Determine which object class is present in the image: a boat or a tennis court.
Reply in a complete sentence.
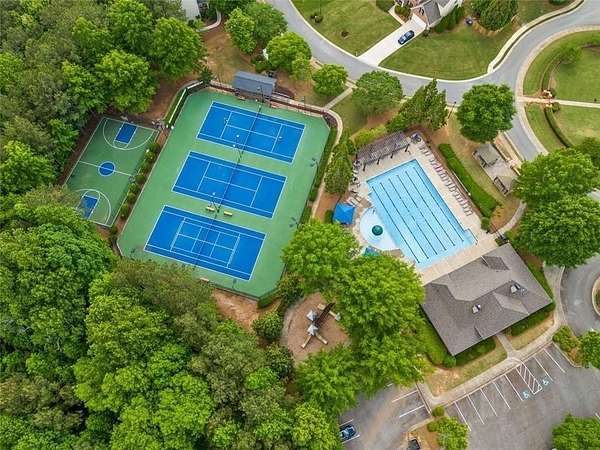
The one in the frame is a tennis court.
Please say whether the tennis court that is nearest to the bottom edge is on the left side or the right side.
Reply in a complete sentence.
It is on the left.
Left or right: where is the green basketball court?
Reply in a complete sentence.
The green basketball court appears in the left half of the scene.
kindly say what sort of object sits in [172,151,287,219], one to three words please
tennis court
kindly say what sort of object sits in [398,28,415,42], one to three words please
vehicle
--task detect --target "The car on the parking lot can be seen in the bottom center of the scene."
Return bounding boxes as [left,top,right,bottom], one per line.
[344,424,360,440]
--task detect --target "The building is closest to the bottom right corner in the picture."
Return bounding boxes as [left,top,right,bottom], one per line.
[422,243,551,356]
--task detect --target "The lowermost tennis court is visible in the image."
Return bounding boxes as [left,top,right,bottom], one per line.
[144,205,267,281]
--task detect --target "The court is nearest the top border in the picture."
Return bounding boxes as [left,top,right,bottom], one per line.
[196,102,306,163]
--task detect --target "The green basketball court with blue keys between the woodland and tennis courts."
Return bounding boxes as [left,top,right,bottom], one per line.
[63,117,159,225]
